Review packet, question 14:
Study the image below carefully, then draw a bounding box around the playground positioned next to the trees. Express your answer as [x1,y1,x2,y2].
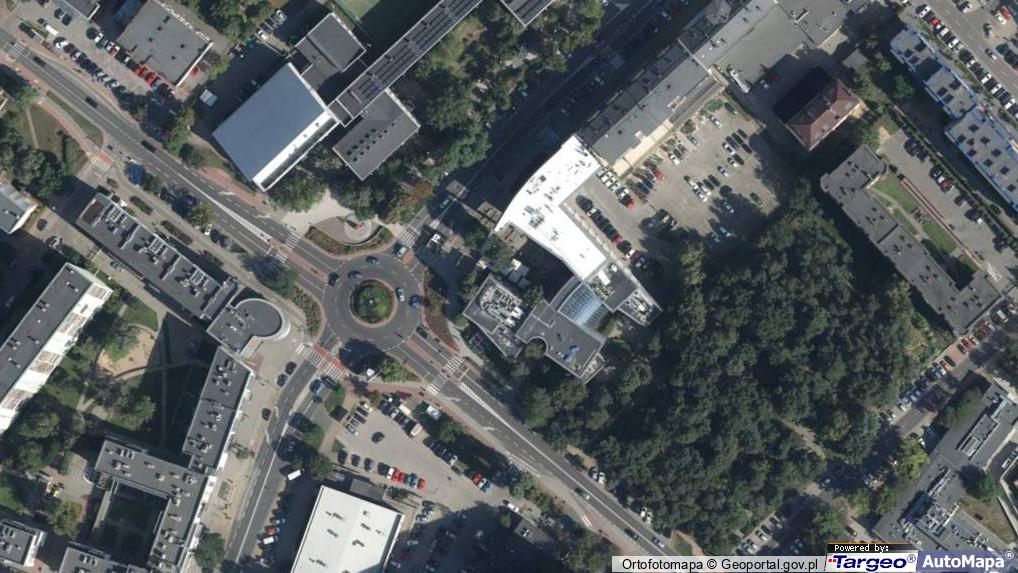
[102,328,155,375]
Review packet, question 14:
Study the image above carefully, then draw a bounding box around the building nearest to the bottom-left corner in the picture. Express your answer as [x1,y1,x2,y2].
[0,518,43,564]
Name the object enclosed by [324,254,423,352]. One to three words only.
roundabout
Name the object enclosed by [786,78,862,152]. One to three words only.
house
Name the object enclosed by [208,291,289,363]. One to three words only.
building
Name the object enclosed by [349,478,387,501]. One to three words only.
shed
